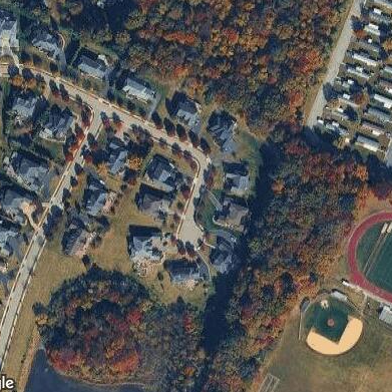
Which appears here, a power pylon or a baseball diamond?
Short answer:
baseball diamond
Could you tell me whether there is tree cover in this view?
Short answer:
Yes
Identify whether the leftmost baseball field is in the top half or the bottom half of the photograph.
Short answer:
bottom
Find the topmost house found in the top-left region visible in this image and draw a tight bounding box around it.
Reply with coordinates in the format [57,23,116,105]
[0,18,20,44]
